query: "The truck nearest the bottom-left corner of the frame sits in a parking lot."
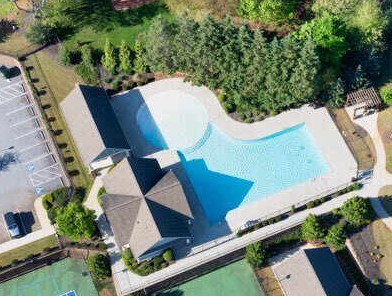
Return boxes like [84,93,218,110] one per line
[1,210,22,240]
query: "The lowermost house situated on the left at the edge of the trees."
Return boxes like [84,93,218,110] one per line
[100,157,194,263]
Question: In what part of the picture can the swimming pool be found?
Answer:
center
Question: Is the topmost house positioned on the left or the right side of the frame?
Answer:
left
